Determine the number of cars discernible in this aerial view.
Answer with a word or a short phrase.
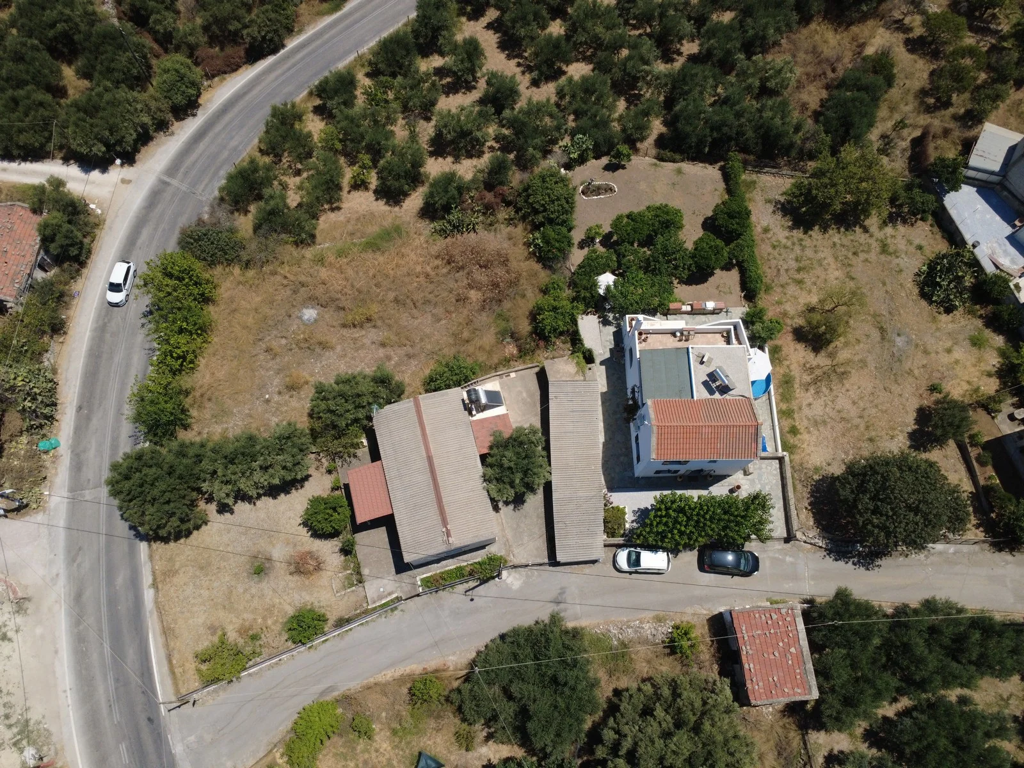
3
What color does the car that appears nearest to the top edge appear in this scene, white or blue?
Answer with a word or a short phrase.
white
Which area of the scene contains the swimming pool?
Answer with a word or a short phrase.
right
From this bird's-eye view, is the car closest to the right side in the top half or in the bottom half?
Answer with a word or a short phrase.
bottom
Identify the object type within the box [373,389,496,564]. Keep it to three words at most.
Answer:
building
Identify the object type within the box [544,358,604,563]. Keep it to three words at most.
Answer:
shed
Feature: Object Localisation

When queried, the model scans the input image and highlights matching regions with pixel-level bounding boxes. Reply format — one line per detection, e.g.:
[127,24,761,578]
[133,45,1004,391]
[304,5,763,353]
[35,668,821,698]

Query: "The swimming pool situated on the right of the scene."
[745,371,776,401]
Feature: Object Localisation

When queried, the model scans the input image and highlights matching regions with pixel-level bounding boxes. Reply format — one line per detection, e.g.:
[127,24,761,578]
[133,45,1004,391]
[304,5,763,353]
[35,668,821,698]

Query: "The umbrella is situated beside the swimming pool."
[744,350,772,376]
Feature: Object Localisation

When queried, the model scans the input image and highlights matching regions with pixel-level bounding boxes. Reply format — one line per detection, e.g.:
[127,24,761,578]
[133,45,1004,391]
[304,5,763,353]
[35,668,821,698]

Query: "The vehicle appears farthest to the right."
[697,547,759,580]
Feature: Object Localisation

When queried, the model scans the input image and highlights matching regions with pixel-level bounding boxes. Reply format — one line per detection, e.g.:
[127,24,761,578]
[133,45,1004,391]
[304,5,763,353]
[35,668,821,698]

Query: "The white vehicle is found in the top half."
[105,260,142,308]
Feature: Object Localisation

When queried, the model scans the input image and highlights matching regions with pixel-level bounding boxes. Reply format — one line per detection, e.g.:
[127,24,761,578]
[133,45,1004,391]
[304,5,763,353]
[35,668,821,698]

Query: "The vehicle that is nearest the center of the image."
[612,545,672,577]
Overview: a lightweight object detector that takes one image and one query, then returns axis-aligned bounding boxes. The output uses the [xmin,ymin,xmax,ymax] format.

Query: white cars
[612,545,672,577]
[105,260,142,308]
